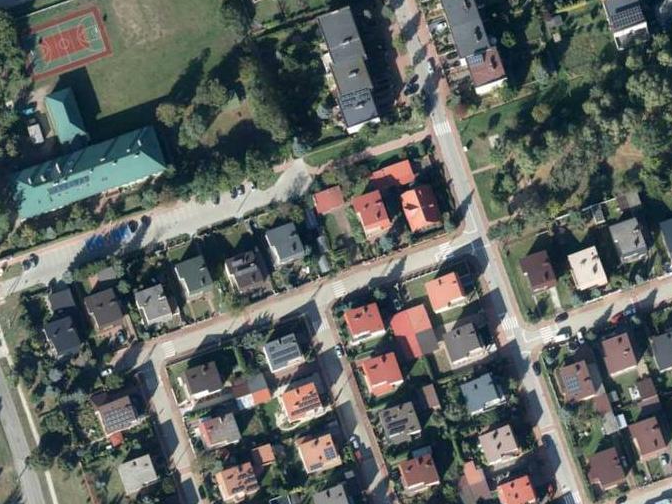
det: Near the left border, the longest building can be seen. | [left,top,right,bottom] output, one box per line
[12,130,165,218]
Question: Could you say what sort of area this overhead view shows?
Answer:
residential area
